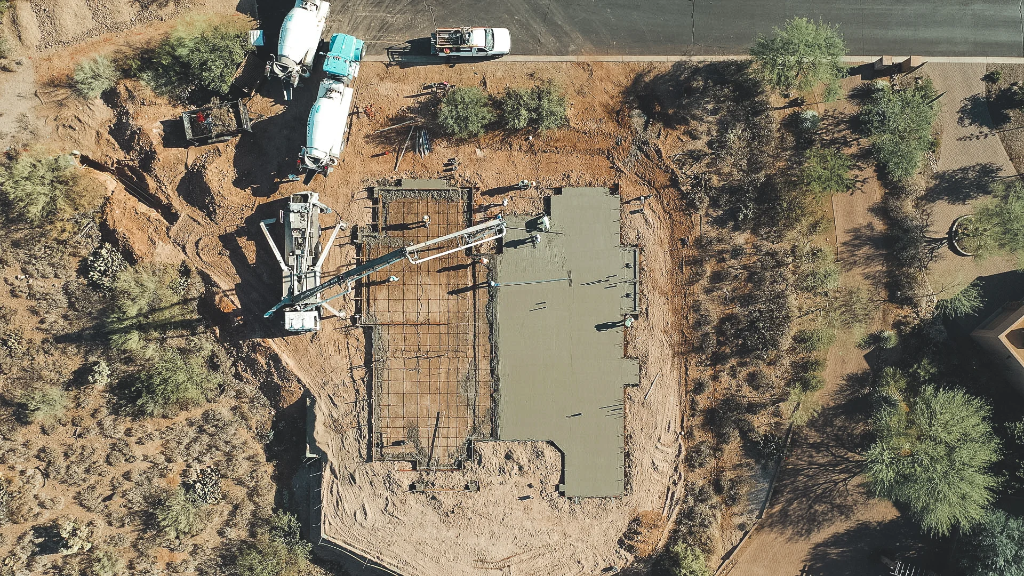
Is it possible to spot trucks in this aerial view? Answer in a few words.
Yes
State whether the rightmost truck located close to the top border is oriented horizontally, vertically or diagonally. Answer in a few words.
horizontally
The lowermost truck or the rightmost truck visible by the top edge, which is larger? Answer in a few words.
the lowermost truck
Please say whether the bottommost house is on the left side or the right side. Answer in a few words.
right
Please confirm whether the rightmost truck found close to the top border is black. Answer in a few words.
No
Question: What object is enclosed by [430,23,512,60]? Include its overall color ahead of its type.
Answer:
white truck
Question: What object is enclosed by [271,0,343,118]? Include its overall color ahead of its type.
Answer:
white truck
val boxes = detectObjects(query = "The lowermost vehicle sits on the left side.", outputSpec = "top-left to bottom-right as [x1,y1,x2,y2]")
[261,193,519,330]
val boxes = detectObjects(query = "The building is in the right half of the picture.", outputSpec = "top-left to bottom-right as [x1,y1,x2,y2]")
[941,281,1024,409]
